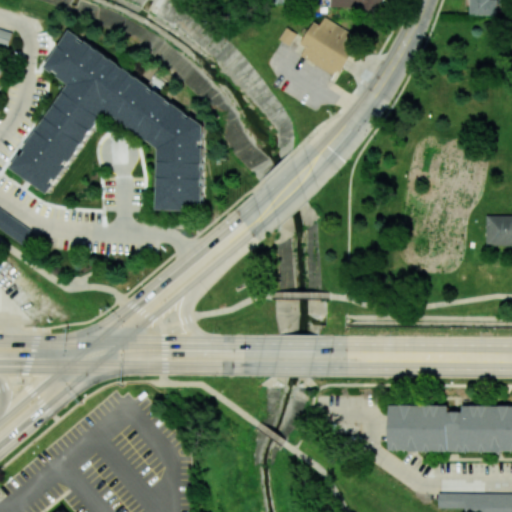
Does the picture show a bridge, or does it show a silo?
bridge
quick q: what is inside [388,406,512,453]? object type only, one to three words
building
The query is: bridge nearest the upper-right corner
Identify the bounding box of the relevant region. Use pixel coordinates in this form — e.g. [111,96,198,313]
[250,128,331,231]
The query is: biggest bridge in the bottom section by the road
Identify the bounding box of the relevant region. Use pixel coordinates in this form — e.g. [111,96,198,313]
[259,335,334,378]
